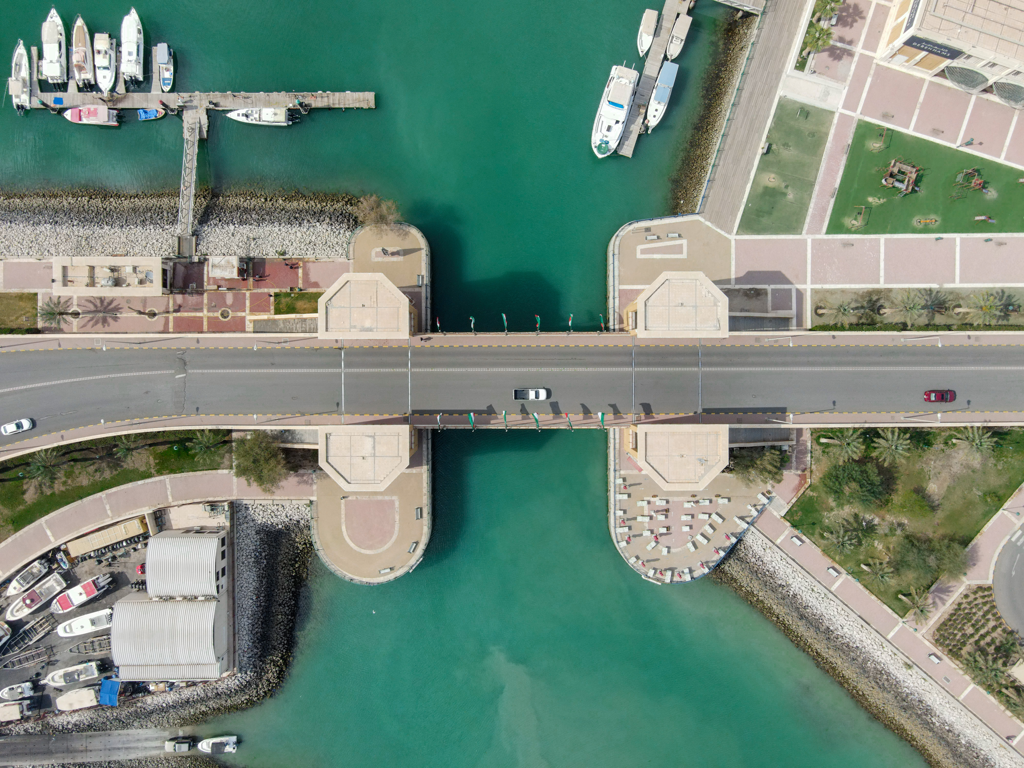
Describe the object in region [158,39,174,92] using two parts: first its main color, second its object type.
white boat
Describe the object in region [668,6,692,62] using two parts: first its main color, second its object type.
white boat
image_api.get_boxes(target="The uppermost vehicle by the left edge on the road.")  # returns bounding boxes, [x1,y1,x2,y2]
[1,418,35,436]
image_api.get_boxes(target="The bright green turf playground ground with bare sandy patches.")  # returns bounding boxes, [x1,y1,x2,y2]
[826,120,1024,234]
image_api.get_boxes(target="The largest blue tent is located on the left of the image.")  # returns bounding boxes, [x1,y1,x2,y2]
[99,673,125,706]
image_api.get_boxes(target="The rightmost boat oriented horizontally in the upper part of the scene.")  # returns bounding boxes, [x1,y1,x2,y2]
[223,106,299,126]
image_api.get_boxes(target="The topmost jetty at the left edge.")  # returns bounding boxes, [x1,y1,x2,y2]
[31,46,375,140]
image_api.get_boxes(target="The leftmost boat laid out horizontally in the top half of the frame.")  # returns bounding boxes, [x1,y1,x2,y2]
[64,106,128,127]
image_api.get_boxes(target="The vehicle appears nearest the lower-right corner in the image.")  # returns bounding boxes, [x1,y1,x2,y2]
[923,389,953,403]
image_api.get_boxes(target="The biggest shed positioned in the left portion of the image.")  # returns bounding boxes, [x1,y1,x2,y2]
[110,529,228,680]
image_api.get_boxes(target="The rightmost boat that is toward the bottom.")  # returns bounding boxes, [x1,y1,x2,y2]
[197,737,246,754]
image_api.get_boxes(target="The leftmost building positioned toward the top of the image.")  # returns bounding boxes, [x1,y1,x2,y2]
[51,256,177,297]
